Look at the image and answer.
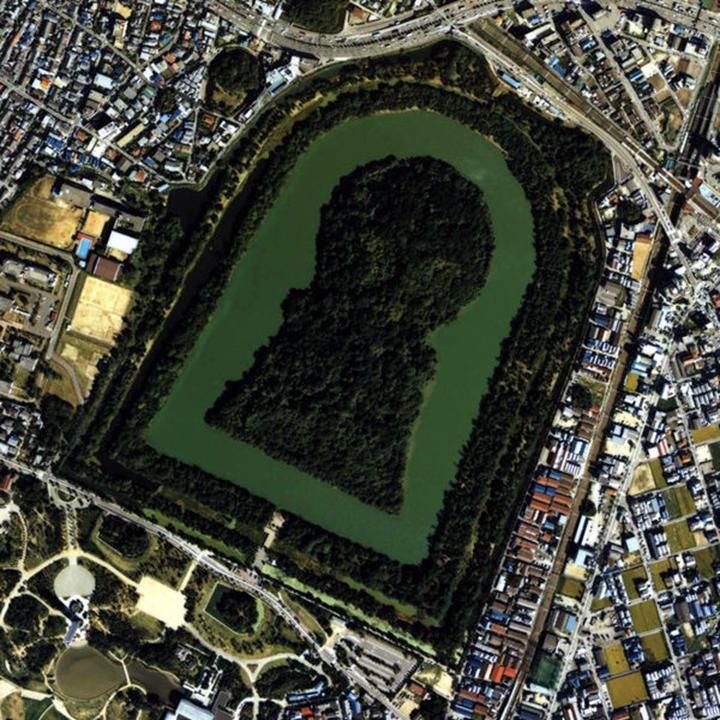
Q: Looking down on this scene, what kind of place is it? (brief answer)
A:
residential area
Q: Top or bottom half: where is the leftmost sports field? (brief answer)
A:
top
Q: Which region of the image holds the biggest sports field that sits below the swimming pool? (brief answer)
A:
left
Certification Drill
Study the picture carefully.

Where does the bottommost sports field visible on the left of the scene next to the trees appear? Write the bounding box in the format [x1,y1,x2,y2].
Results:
[70,277,136,344]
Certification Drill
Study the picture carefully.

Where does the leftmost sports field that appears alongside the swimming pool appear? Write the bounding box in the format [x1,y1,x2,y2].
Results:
[2,176,84,247]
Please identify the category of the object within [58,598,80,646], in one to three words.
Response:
building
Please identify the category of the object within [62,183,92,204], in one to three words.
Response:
building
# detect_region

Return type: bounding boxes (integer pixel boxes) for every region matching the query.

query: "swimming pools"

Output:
[77,233,97,259]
